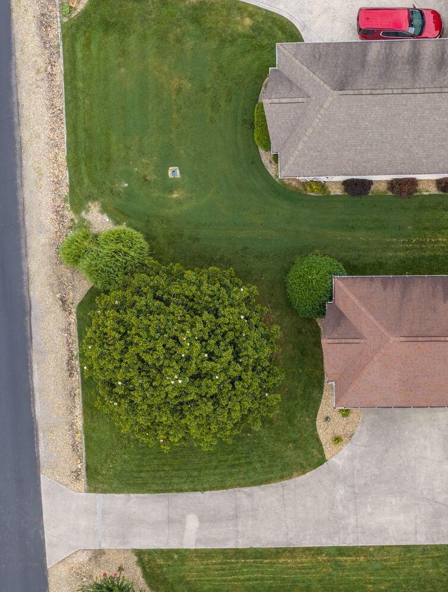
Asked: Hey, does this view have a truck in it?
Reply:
No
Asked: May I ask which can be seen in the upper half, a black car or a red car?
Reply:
red car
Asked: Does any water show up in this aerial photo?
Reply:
No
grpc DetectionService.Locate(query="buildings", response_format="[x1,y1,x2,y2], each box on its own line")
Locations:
[321,272,448,409]
[263,40,448,185]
